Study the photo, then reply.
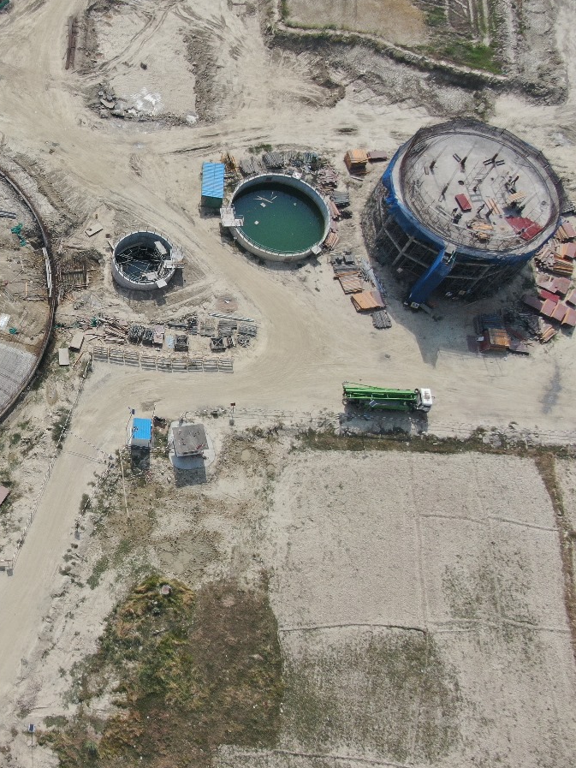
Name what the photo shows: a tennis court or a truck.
truck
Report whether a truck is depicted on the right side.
Yes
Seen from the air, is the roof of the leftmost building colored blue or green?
blue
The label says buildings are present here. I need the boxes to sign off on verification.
[130,418,152,447]
[169,420,214,468]
[199,161,225,210]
